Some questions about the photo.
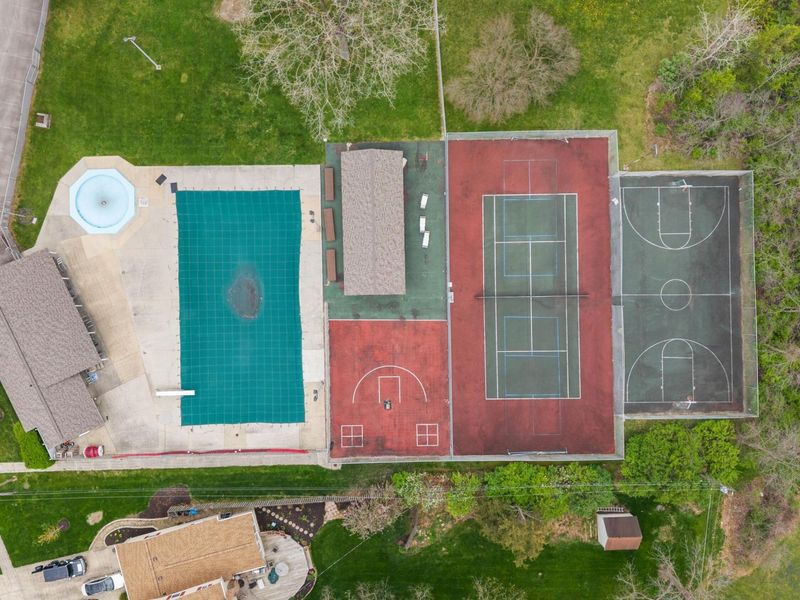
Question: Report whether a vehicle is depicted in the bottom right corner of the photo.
No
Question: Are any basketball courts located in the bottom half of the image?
Yes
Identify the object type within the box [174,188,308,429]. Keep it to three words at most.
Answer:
swimming pool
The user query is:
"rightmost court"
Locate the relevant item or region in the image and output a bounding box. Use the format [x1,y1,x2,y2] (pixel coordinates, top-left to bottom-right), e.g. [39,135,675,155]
[620,177,743,412]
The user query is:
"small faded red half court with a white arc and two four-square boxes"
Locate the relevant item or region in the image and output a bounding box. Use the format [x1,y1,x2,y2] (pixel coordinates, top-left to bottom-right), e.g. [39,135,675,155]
[329,320,452,462]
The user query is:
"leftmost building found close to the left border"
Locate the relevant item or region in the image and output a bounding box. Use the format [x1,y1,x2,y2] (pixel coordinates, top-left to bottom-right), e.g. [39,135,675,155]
[0,249,109,459]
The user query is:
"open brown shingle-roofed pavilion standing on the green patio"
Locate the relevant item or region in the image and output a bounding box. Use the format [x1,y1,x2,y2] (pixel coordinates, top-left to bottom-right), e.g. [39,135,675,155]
[341,148,405,297]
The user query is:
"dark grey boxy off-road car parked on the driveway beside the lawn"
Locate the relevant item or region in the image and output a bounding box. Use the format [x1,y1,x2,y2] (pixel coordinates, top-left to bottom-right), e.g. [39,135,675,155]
[43,553,88,582]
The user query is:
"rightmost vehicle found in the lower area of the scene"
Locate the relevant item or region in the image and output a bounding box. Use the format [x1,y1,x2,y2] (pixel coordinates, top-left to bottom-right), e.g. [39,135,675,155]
[81,567,123,594]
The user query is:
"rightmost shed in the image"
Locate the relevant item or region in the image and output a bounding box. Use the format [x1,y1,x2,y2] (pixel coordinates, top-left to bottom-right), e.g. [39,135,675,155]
[598,514,642,550]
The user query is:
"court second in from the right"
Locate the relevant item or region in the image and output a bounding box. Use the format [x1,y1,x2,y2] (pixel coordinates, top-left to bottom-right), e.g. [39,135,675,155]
[449,137,615,458]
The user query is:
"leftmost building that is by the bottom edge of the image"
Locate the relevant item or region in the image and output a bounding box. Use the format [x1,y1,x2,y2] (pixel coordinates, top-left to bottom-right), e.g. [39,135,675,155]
[113,505,266,600]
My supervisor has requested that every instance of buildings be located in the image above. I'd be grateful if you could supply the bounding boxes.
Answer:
[0,249,109,459]
[341,148,405,297]
[113,505,266,600]
[598,514,642,550]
